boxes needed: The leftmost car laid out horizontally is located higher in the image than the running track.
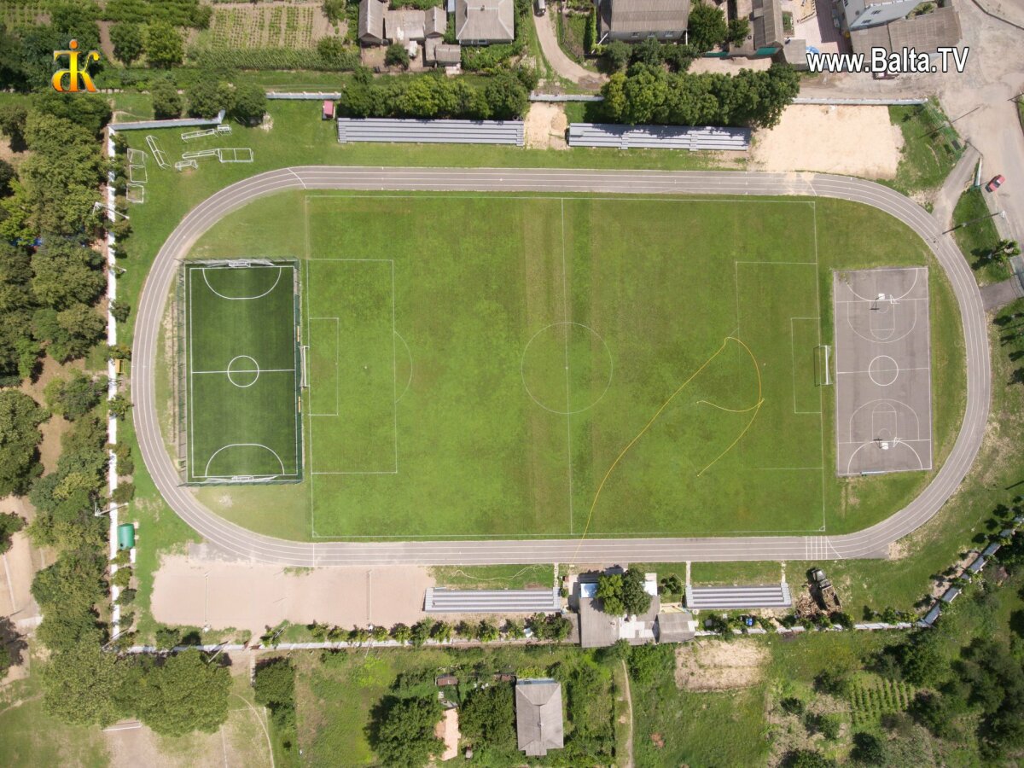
[875,68,900,81]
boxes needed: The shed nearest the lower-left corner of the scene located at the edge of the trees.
[114,523,138,553]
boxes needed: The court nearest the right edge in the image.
[833,266,933,477]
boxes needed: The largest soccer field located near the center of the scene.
[305,193,830,541]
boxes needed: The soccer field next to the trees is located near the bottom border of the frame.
[98,707,270,768]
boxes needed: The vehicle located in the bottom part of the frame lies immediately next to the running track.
[810,565,844,613]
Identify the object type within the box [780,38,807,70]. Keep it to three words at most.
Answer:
building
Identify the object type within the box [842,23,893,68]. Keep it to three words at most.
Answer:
building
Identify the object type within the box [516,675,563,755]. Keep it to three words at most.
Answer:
house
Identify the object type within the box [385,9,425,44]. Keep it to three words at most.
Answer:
shed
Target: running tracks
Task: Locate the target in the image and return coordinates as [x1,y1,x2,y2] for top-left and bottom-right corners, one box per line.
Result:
[131,166,991,566]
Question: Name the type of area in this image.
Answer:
sports ground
